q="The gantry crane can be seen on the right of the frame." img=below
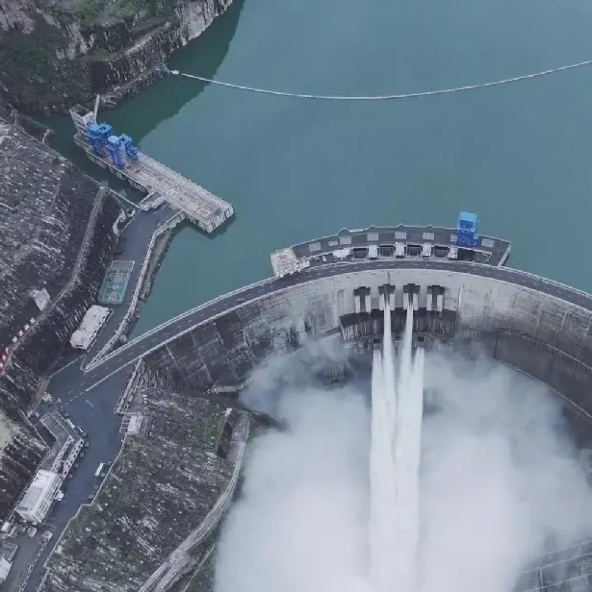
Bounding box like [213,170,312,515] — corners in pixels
[457,218,478,249]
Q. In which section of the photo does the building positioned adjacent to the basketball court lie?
left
